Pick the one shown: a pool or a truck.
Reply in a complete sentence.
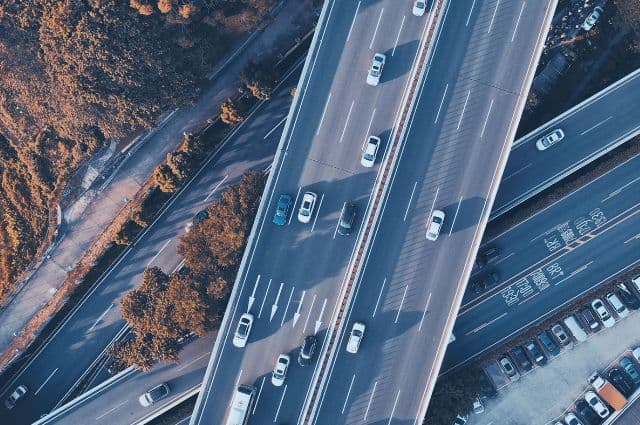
This aerial view contains a truck.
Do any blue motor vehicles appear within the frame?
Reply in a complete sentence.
Yes, there's a blue motor vehicle here.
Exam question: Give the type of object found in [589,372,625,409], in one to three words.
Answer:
truck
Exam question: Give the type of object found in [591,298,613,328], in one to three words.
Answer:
car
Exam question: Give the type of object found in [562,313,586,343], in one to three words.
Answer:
vehicle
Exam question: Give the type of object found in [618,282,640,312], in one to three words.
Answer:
car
